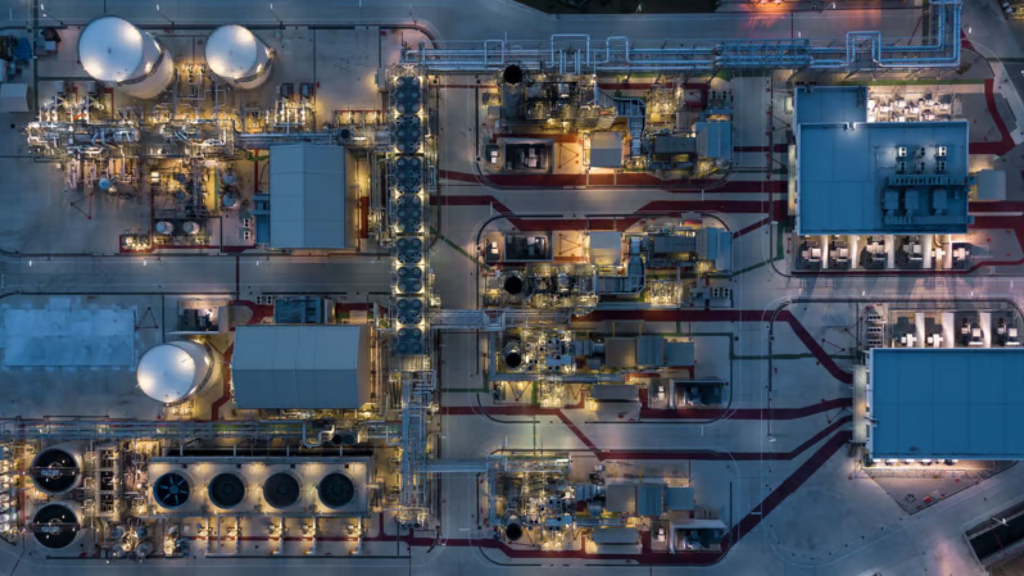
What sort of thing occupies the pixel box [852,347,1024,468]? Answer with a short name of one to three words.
building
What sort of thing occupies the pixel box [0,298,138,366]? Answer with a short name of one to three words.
shed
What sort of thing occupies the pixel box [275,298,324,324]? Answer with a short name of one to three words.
house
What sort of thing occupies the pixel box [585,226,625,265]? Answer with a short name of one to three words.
building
